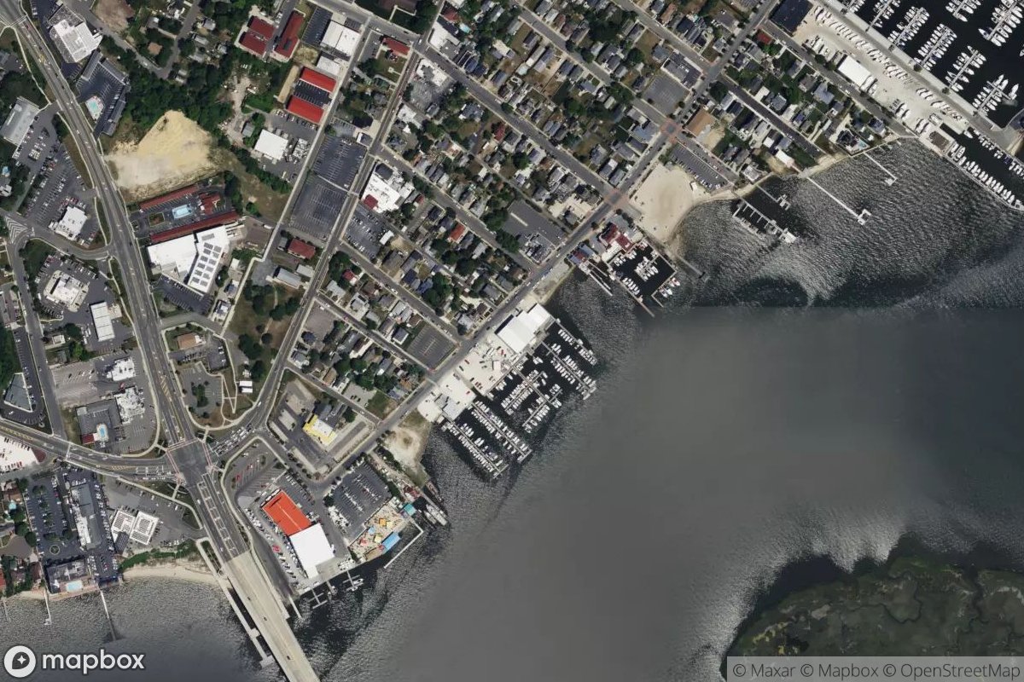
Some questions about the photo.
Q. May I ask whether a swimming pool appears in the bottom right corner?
No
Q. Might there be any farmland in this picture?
No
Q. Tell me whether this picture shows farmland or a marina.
marina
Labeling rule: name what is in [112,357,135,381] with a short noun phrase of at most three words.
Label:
building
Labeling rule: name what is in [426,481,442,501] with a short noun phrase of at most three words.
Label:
boat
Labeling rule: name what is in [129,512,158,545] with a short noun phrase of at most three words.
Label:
house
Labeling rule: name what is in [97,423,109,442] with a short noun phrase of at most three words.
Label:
swimming pool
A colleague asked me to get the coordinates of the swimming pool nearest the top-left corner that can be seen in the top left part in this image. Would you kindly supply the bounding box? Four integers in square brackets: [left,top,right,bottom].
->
[85,95,104,117]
